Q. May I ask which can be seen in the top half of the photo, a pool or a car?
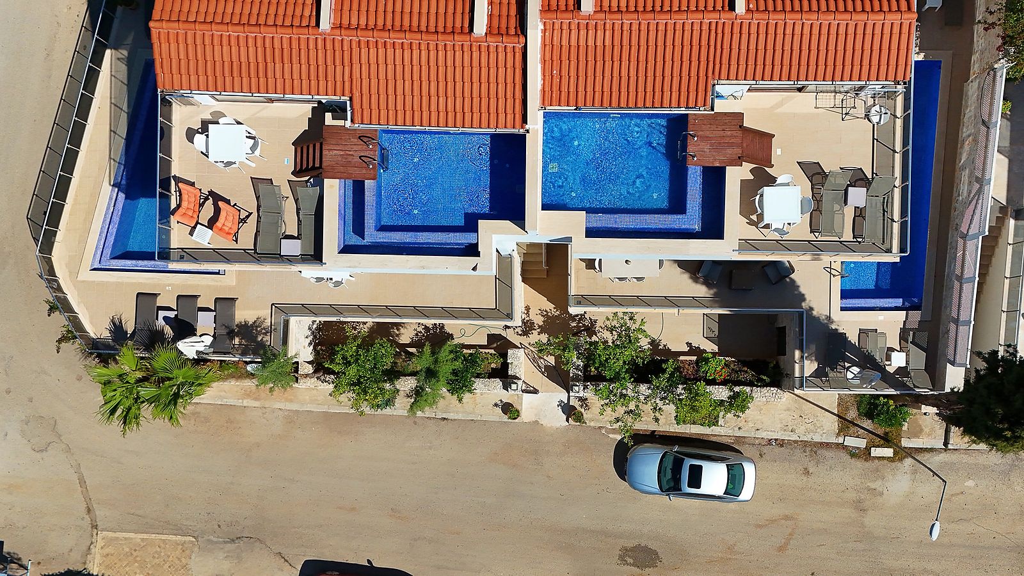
pool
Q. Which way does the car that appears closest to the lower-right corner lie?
horizontally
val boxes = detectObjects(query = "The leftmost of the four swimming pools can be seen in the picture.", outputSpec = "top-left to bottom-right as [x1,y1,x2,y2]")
[90,58,231,274]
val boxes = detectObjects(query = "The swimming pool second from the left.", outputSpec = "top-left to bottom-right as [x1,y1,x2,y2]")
[323,122,532,274]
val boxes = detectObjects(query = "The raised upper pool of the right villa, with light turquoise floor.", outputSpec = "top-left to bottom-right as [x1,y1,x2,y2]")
[527,109,741,261]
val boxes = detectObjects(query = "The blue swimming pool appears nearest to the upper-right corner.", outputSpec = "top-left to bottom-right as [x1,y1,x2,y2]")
[839,60,942,310]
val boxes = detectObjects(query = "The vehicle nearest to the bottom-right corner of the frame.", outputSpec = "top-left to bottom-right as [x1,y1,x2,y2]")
[623,440,758,505]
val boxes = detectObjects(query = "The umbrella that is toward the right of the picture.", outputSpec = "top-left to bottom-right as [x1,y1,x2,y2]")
[855,364,897,387]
